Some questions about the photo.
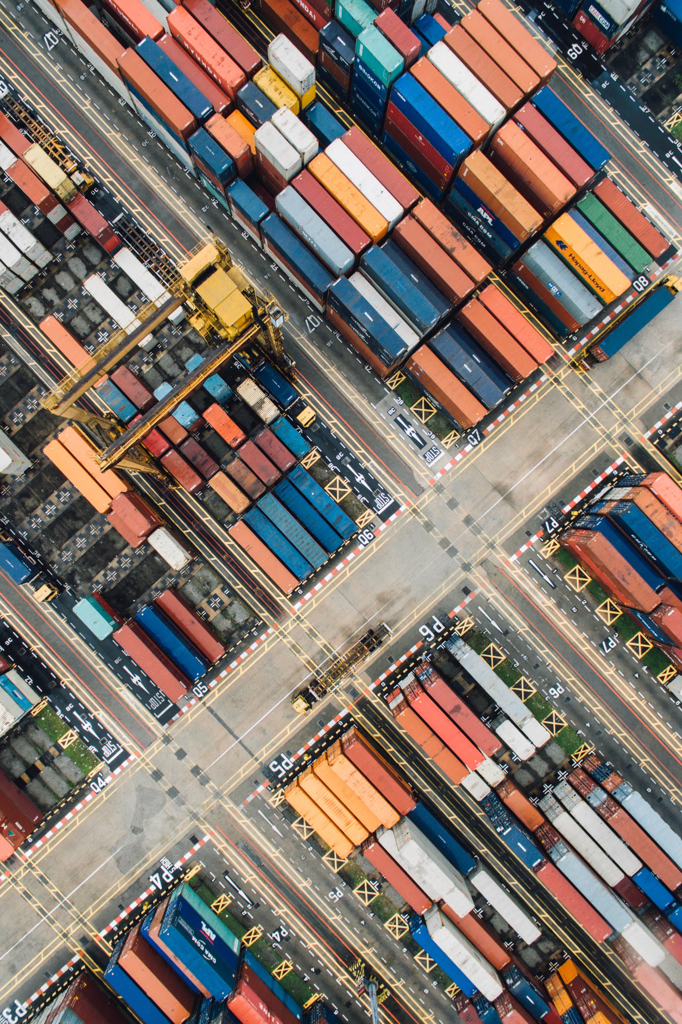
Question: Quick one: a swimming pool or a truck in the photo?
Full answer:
Looking from above, you can make out a truck.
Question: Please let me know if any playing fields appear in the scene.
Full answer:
No, this view has no playing field in it.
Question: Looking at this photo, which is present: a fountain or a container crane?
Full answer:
Visible in the photo is a container crane.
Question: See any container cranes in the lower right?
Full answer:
No, in the lower right there is no container crane.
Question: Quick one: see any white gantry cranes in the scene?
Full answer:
No, the frame has no white gantry crane in it.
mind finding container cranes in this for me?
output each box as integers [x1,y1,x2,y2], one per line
[35,234,301,490]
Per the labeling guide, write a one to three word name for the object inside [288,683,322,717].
truck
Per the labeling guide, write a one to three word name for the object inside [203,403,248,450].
shipping container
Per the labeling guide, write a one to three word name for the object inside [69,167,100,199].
truck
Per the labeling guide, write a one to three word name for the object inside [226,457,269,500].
shipping container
